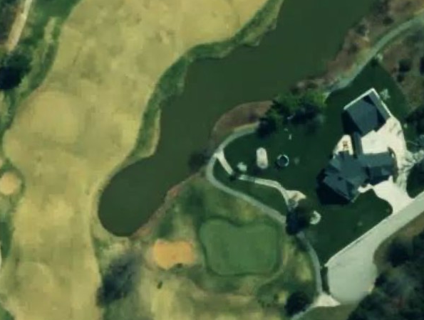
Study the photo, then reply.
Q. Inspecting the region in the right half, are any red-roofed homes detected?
No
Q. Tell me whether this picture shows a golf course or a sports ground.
golf course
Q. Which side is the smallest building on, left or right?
right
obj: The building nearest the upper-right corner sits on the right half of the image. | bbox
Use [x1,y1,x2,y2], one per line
[343,90,391,137]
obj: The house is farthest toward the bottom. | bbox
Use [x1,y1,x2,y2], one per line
[319,130,395,204]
